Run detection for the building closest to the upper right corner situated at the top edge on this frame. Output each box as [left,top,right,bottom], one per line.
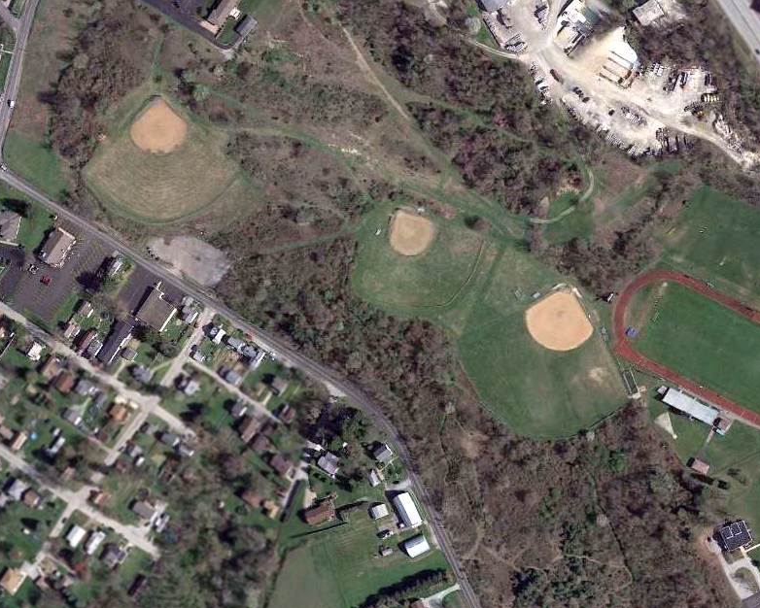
[634,0,665,26]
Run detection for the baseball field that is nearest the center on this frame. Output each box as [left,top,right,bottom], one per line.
[354,202,487,308]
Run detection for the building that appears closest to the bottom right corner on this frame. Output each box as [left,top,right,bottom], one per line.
[721,521,753,551]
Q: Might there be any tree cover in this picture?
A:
Yes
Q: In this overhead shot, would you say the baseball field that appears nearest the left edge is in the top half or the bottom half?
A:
top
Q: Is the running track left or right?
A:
right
